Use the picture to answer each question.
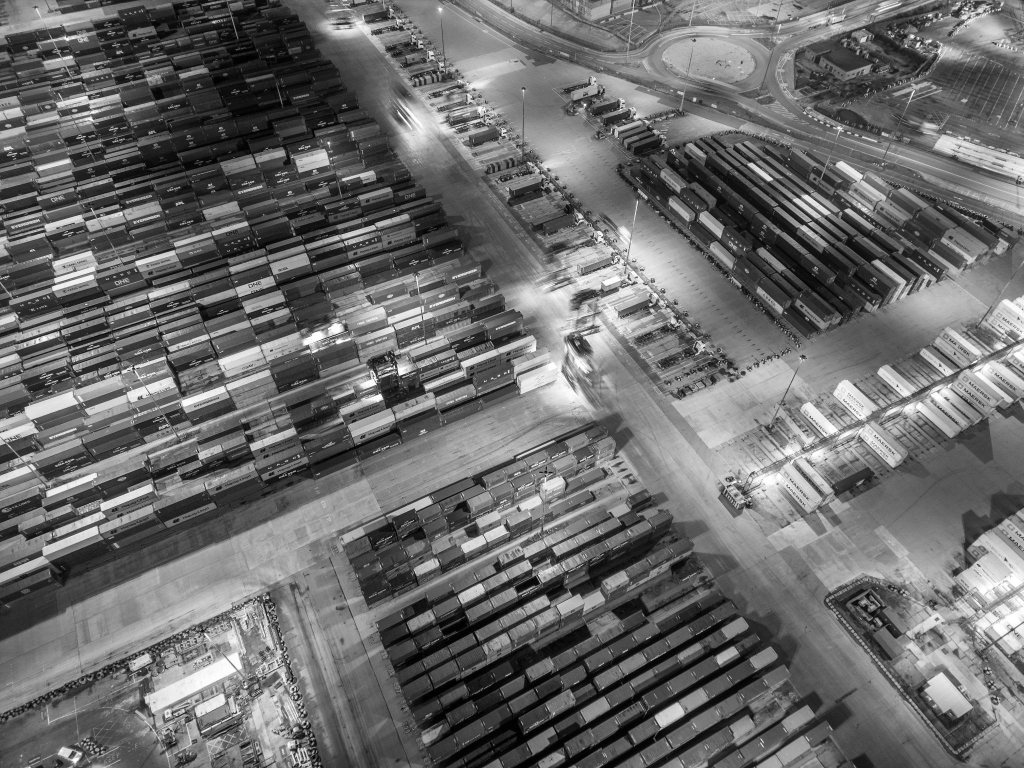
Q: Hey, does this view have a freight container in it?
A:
Yes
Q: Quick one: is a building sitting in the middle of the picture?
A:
No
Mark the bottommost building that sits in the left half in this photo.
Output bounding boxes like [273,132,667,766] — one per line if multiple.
[196,694,235,735]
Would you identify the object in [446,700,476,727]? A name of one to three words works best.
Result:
shipping container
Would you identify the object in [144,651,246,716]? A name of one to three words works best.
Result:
building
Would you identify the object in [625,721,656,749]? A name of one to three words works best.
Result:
shipping container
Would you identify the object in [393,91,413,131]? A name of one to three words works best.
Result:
work vehicle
